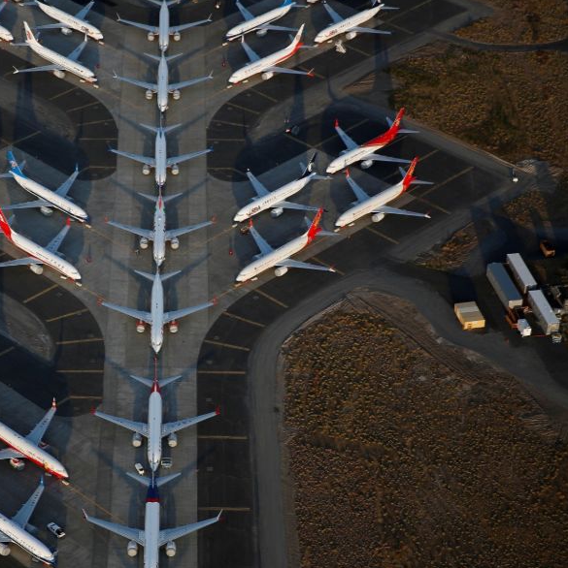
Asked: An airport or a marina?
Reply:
airport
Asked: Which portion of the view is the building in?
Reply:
right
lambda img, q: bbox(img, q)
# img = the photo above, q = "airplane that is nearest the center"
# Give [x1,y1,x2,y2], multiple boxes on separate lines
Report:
[237,208,338,284]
